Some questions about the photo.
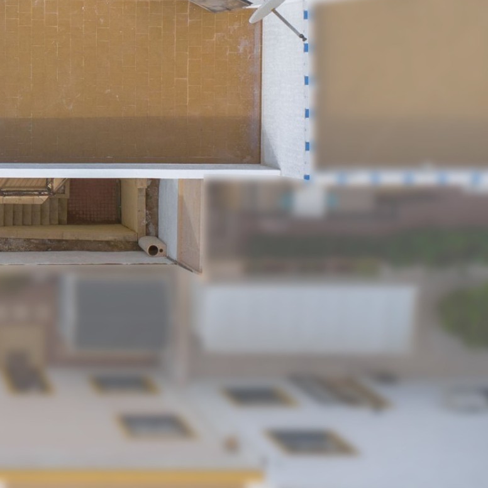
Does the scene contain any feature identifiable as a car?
No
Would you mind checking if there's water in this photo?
No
